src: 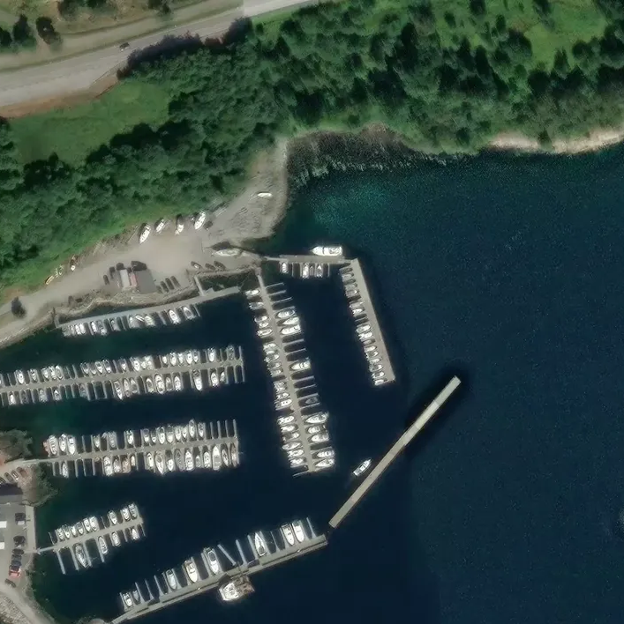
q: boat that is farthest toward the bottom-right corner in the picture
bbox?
[352,461,371,476]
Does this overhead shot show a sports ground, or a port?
port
